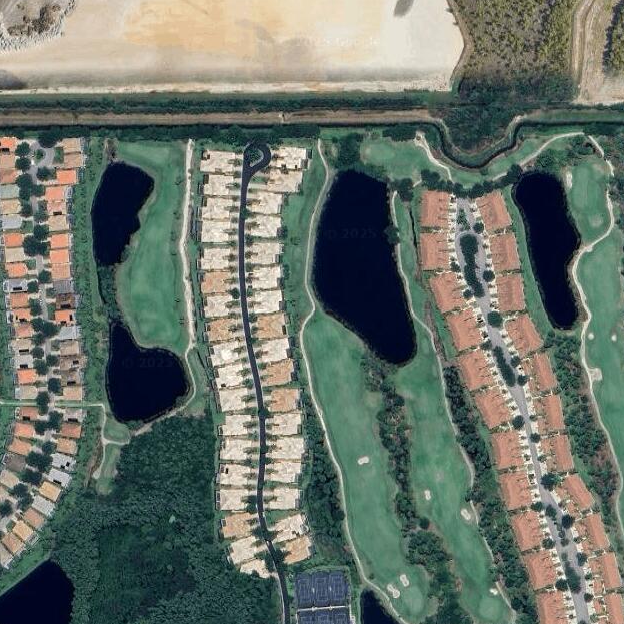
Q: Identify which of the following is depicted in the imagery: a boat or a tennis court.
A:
tennis court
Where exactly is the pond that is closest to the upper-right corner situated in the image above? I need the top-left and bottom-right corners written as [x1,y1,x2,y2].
[514,172,579,328]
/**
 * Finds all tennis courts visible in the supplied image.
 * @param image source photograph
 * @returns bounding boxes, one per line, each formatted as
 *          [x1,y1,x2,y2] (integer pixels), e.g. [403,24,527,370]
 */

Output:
[294,572,313,608]
[299,610,315,624]
[314,608,332,624]
[329,569,349,605]
[312,570,332,607]
[331,606,350,624]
